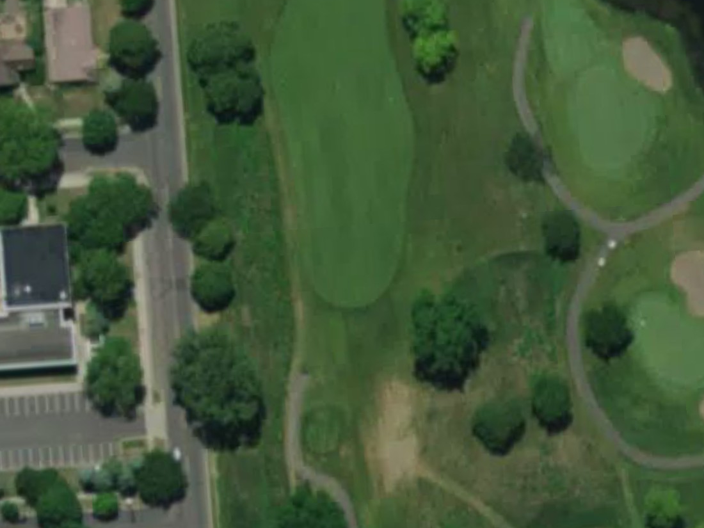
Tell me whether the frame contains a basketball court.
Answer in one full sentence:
No, the scene contains no basketball court.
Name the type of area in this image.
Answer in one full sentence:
The area seen from above is a golf course.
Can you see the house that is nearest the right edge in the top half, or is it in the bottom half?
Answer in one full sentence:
It is in the top half that the house that is nearest the right edge appears.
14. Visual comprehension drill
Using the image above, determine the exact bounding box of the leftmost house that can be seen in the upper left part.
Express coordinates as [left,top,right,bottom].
[0,42,34,86]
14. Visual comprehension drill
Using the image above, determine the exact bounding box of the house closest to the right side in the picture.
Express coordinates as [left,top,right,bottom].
[45,2,97,82]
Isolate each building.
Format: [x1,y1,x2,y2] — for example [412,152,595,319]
[0,42,34,86]
[45,2,97,82]
[0,226,76,368]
